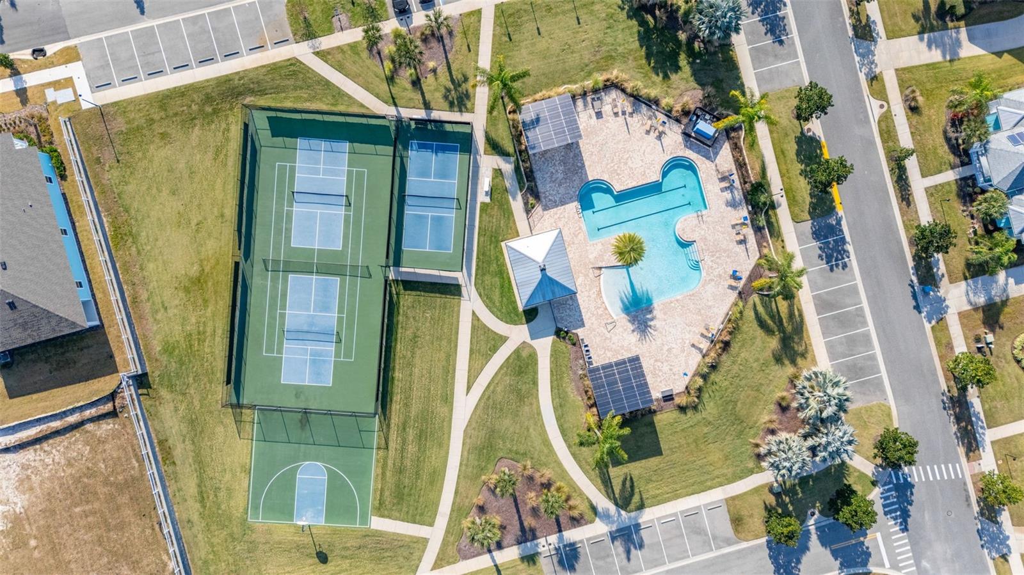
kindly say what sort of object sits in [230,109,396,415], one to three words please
tennis court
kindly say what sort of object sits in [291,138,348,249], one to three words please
sports court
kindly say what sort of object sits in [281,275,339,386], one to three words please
sports court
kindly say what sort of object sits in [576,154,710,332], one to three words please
swimming pool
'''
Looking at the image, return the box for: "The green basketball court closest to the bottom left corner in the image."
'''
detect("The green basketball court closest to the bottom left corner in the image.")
[247,408,378,529]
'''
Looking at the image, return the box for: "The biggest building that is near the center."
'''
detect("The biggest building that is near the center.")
[506,228,577,308]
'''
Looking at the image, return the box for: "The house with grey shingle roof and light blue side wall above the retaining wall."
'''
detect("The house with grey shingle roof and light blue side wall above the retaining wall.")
[0,131,97,351]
